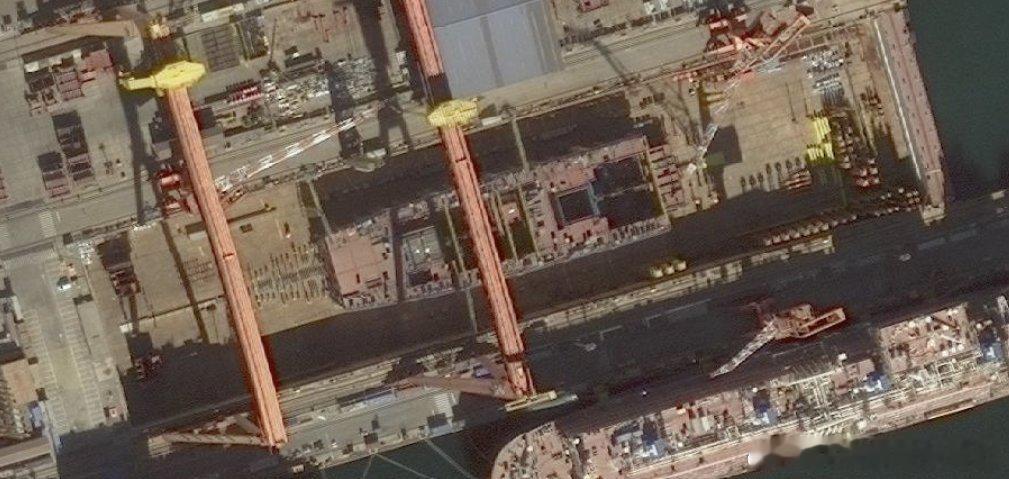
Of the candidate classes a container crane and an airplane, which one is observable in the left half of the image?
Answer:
container crane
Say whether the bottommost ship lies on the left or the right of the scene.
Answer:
right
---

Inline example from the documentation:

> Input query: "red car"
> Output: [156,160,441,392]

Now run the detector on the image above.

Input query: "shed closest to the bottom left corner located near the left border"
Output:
[0,363,40,404]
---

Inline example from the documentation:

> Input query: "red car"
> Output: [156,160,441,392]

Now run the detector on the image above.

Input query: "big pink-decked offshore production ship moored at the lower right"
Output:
[491,286,1009,479]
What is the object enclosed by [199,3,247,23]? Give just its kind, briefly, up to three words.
shed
